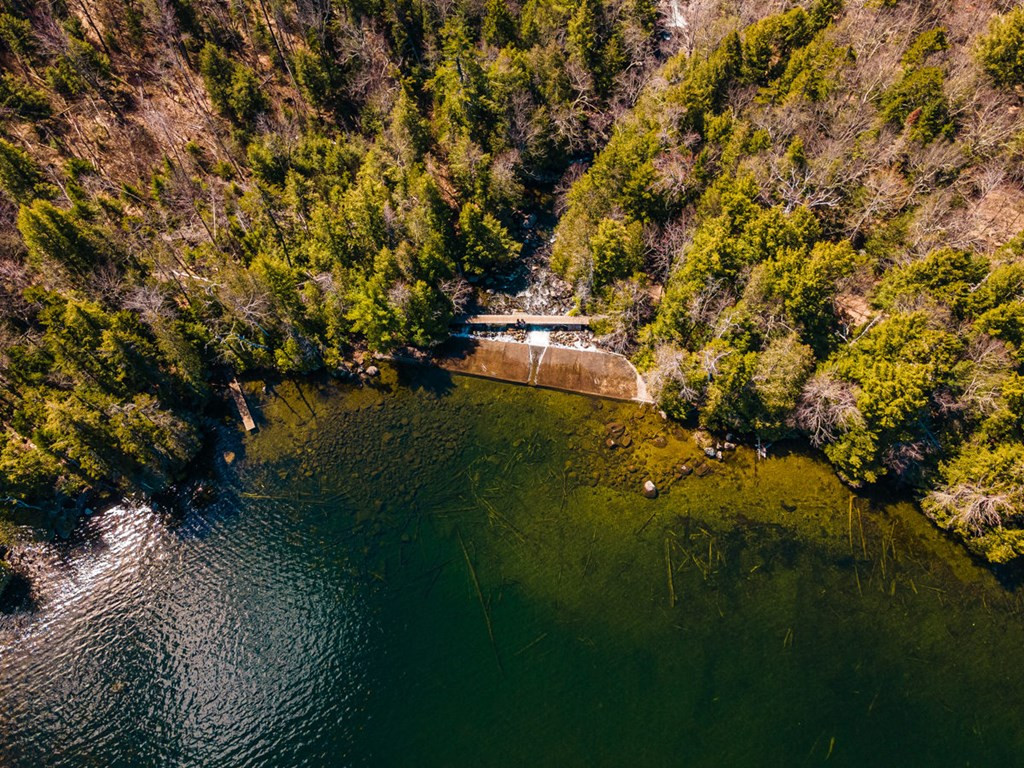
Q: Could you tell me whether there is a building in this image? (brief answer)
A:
No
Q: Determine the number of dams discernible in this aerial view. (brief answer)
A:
1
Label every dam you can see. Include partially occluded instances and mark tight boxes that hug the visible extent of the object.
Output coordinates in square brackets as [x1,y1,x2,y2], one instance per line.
[432,334,655,405]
